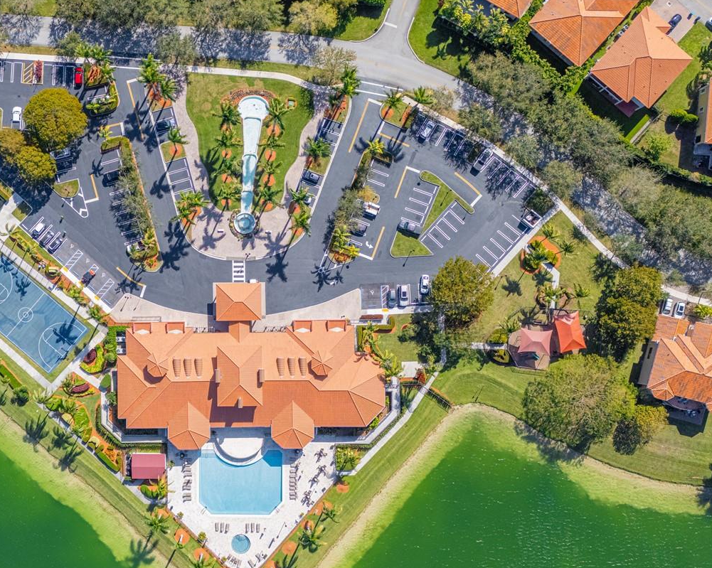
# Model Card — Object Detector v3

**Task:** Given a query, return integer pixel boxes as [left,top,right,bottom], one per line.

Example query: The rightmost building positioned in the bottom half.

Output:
[639,315,712,426]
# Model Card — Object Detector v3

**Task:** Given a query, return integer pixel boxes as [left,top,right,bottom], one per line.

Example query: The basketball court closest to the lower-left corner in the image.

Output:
[0,252,90,376]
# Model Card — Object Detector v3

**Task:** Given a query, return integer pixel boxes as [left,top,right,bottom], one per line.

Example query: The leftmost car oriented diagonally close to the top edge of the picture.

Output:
[666,12,682,31]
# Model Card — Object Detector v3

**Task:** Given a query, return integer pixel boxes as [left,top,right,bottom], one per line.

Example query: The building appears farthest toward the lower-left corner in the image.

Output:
[132,455,166,479]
